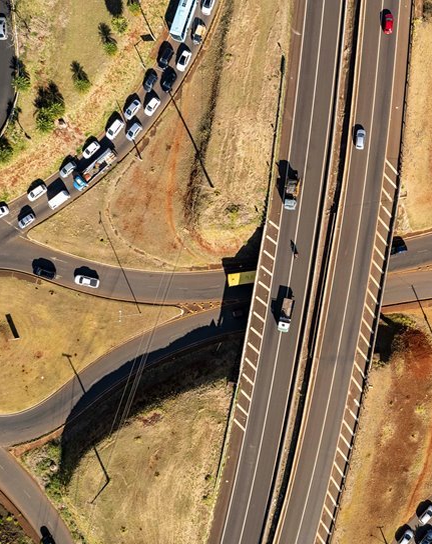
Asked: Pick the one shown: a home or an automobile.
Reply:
automobile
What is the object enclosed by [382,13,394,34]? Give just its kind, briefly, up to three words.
vehicle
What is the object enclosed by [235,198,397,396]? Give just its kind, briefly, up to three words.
overpass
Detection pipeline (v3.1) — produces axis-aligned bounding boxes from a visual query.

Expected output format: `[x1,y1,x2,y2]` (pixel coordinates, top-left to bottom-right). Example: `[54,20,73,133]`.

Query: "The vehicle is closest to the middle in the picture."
[224,272,258,290]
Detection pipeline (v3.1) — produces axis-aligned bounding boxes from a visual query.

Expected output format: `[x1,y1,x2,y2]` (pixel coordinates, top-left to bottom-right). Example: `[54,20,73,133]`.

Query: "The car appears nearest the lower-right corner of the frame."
[417,530,432,544]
